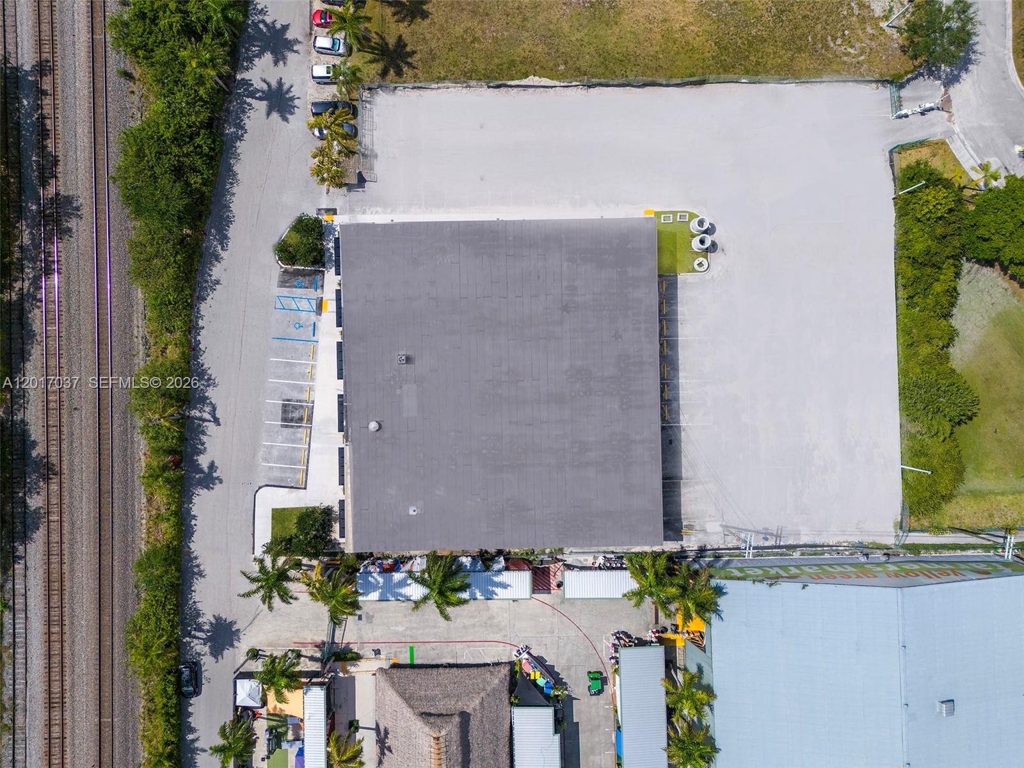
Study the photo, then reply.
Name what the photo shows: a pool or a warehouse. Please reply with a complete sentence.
It is a warehouse that can be seen here.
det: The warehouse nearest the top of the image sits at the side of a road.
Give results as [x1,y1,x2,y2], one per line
[334,215,664,552]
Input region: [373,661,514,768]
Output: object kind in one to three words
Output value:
building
